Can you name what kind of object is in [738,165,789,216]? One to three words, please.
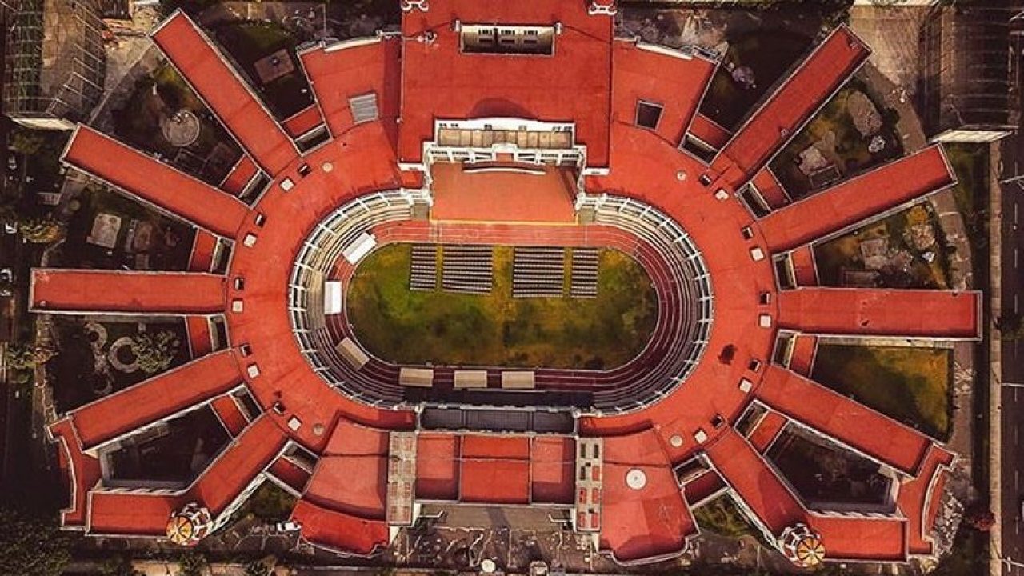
building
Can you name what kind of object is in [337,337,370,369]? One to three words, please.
tent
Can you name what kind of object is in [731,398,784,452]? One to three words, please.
building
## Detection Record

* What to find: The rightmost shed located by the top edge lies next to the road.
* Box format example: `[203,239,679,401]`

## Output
[930,0,1012,142]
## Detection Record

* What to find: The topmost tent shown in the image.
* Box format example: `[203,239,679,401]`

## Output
[344,232,376,264]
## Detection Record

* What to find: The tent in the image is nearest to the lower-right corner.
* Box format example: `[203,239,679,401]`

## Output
[502,370,534,389]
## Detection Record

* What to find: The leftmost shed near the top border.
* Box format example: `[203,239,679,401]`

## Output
[2,0,79,128]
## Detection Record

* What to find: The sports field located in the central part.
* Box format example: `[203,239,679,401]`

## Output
[348,242,657,371]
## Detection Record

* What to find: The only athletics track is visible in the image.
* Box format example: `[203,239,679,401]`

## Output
[323,217,683,396]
